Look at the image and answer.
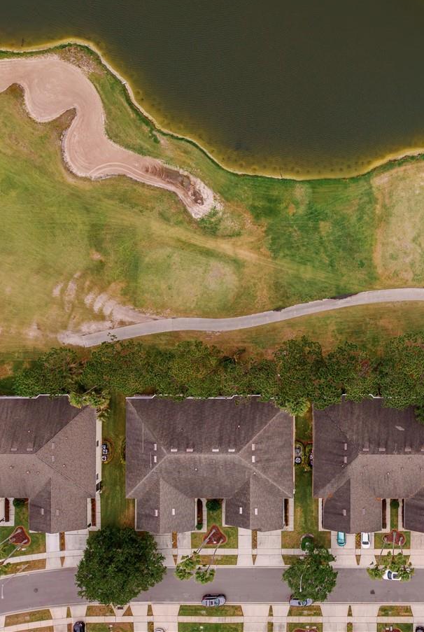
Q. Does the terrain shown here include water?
Yes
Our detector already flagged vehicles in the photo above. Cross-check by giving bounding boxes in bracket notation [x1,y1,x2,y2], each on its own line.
[360,532,372,551]
[290,595,313,608]
[335,532,346,549]
[202,594,226,607]
[382,569,402,581]
[415,624,424,632]
[73,618,86,632]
